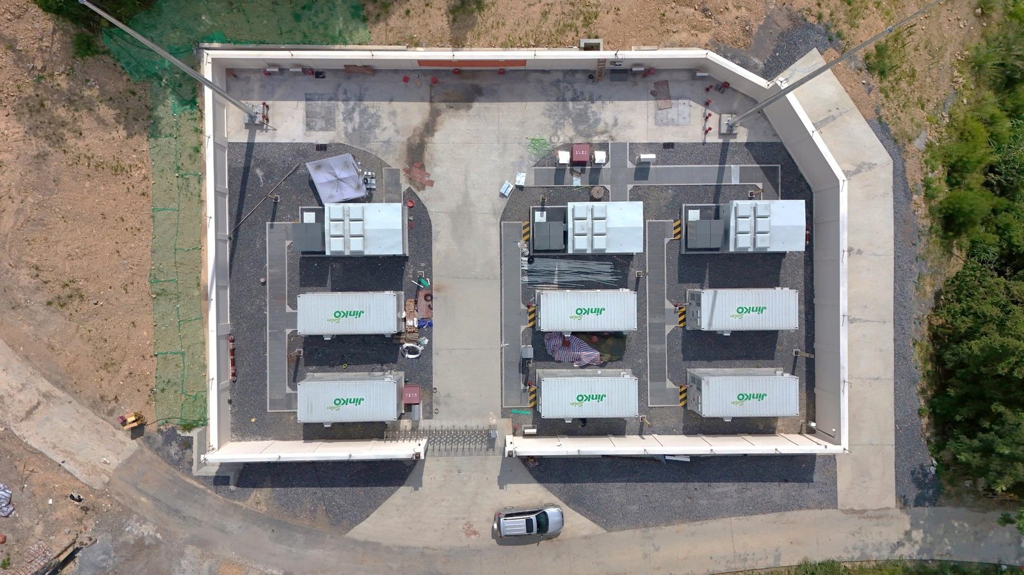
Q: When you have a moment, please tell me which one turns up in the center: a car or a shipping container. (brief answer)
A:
shipping container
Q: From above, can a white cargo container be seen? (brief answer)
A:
Yes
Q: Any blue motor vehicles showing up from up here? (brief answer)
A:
No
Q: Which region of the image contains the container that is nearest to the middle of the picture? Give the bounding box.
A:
[533,285,637,337]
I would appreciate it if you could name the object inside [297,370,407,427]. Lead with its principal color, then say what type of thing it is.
white shipping container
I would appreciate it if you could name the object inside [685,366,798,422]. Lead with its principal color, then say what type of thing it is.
white shipping container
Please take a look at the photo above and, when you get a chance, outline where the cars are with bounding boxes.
[493,504,562,540]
